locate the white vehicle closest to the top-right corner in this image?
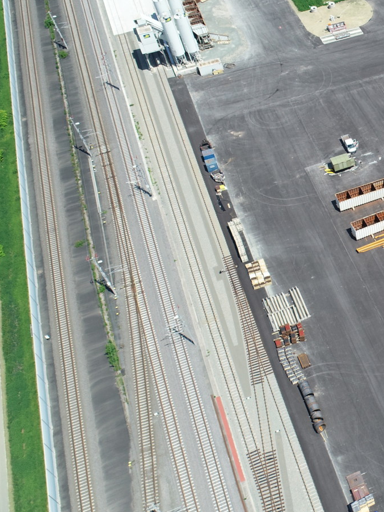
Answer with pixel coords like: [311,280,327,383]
[339,134,358,151]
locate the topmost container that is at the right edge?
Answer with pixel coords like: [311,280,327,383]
[334,177,384,210]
